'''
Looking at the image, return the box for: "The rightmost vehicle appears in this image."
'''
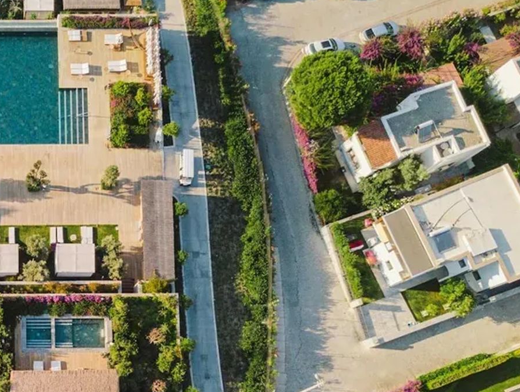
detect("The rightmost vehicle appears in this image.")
[359,20,398,44]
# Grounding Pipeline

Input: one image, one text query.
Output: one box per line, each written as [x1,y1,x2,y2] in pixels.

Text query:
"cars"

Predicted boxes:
[359,20,398,44]
[303,36,341,57]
